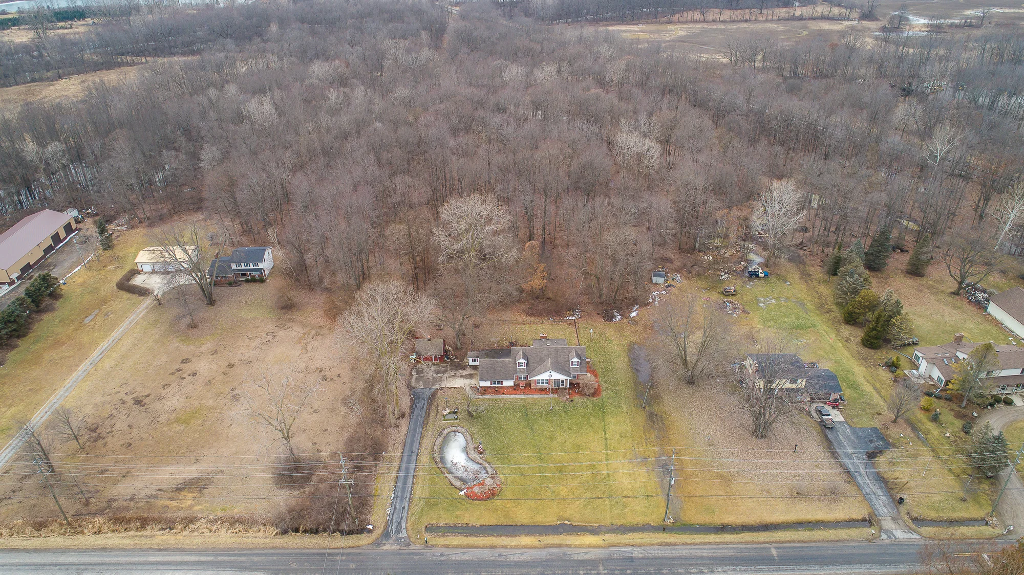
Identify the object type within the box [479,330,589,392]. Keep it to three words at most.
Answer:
house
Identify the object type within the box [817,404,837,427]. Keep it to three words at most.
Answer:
vehicle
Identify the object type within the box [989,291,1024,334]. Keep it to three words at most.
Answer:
building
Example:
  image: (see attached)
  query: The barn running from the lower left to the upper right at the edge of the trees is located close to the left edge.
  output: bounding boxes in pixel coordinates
[0,208,78,286]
